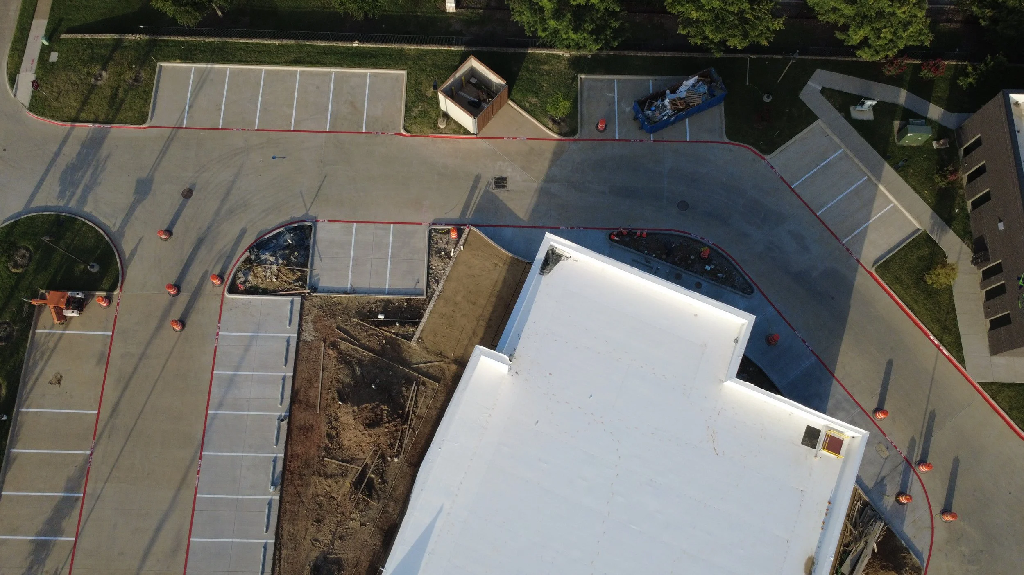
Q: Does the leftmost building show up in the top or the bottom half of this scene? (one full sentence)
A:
You can find the leftmost building in the bottom half.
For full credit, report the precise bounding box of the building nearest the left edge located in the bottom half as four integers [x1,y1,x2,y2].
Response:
[370,233,868,575]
